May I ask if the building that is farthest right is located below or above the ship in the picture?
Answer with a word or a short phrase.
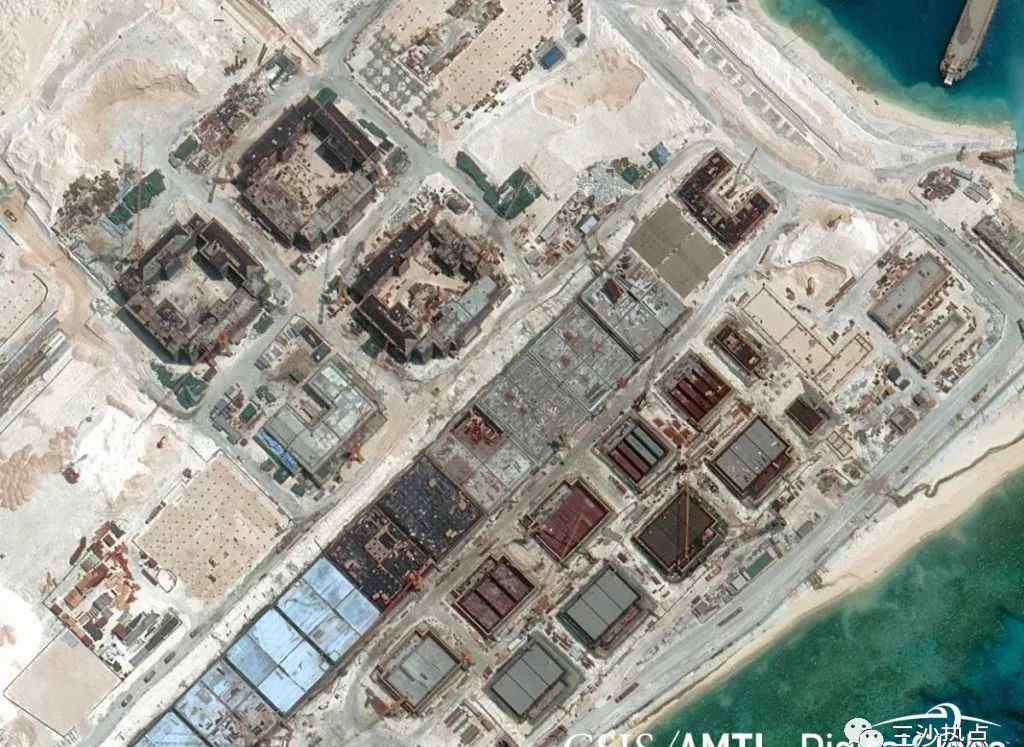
below it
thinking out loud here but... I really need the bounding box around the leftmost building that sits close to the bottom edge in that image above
[380,637,462,715]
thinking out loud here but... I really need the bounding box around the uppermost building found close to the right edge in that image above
[972,216,1024,294]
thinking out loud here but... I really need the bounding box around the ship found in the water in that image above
[940,0,999,87]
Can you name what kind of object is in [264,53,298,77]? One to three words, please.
shed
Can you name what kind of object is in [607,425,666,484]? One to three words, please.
building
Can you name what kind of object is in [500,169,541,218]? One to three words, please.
shed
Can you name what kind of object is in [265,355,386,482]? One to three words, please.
building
